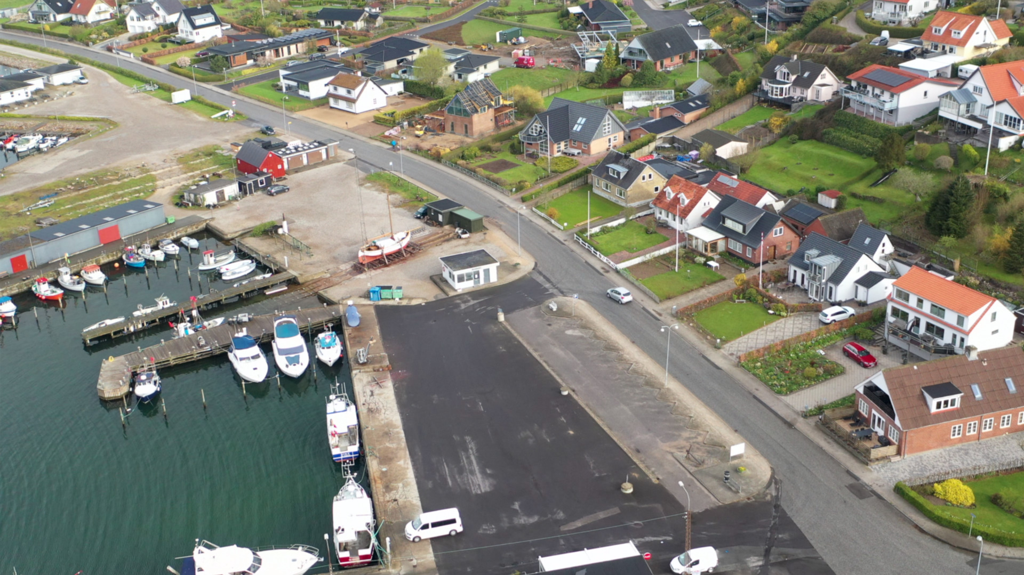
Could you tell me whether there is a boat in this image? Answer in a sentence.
Yes, you can see a boat in this photo.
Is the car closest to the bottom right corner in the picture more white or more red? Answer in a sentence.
The car closest to the bottom right corner looks red in the image.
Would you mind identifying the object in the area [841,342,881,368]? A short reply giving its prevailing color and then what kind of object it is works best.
red car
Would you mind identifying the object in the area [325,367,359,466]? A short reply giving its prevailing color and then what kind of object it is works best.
white ship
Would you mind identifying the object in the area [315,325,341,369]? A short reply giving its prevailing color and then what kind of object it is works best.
white boat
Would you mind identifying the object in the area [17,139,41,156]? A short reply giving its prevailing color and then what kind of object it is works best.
white boat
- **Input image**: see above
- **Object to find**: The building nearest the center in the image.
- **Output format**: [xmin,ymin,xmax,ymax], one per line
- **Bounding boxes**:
[438,250,498,287]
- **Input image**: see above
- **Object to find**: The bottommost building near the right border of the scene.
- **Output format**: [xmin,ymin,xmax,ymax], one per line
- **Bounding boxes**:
[842,341,1024,459]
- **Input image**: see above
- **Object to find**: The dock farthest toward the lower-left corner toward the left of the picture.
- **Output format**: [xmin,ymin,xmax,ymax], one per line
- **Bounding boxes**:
[96,355,133,405]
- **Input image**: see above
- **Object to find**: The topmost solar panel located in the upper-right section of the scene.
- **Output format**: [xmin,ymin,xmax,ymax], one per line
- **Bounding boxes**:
[860,67,912,86]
